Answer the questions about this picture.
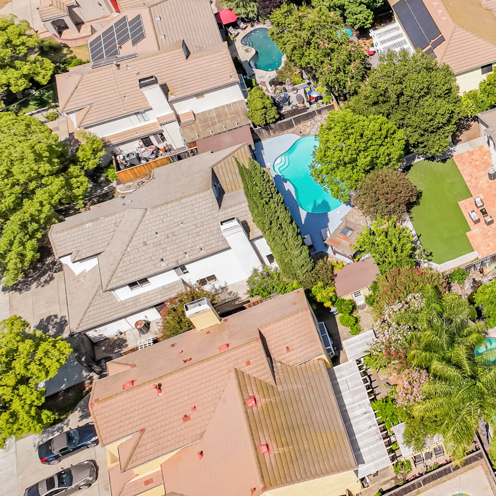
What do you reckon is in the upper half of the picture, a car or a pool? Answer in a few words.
pool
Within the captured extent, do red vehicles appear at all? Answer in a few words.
No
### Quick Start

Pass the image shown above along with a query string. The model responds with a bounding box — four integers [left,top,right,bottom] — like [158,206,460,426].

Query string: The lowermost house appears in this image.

[87,289,373,496]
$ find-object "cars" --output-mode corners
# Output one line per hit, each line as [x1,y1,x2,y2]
[22,459,96,496]
[35,422,101,464]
